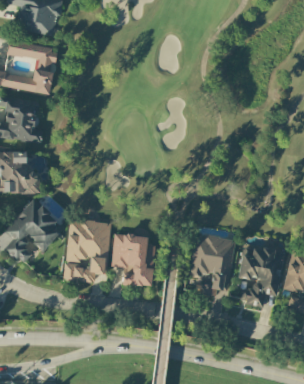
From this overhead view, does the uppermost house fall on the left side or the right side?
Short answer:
left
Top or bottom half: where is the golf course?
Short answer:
top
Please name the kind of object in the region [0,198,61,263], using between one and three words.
house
